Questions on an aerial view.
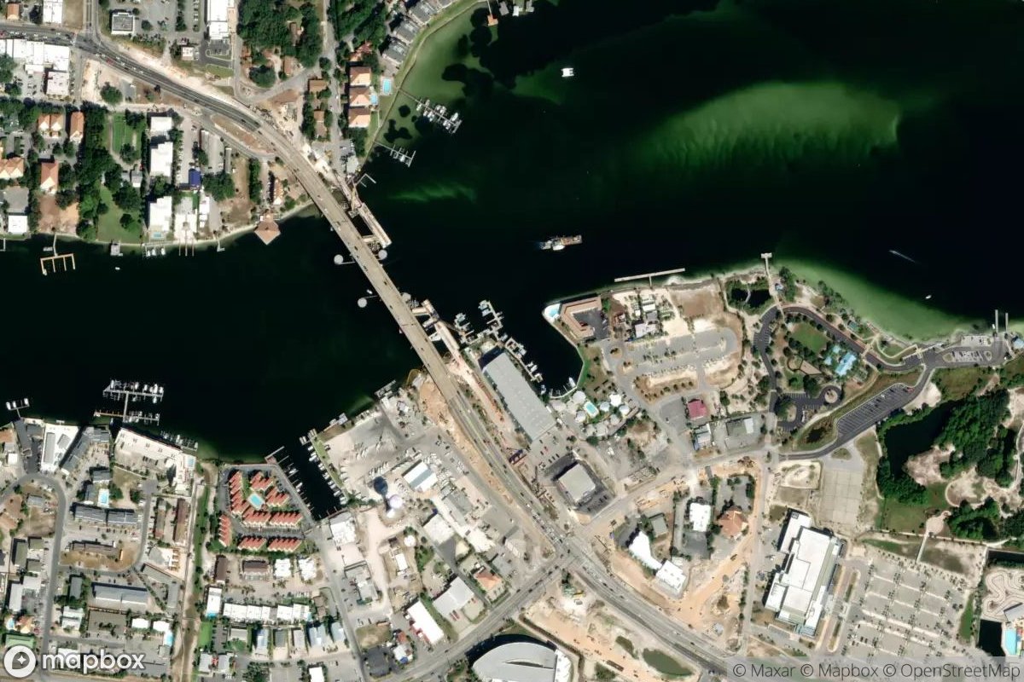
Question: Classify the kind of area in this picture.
port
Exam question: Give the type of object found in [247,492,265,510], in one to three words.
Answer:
swimming pool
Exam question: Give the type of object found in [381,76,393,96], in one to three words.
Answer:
swimming pool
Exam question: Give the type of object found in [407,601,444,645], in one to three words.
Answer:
building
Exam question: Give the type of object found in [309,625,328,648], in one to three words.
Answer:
house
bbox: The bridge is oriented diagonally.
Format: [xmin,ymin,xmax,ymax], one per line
[250,121,462,399]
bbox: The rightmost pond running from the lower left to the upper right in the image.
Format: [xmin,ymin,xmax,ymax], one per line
[884,401,959,470]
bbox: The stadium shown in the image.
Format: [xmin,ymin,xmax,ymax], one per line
[472,643,571,682]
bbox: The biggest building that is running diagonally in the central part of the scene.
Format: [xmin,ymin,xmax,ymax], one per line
[481,353,556,445]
